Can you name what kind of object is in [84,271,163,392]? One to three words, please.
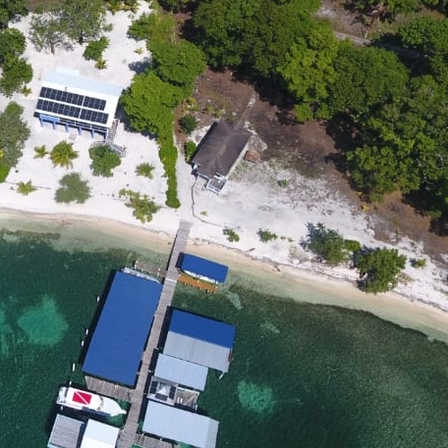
building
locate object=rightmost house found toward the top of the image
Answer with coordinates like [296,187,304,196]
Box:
[192,122,252,197]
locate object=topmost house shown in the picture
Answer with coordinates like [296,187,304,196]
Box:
[36,68,128,157]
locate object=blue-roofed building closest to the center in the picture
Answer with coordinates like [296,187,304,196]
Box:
[179,255,229,291]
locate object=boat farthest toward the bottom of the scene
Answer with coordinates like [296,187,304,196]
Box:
[56,386,126,428]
